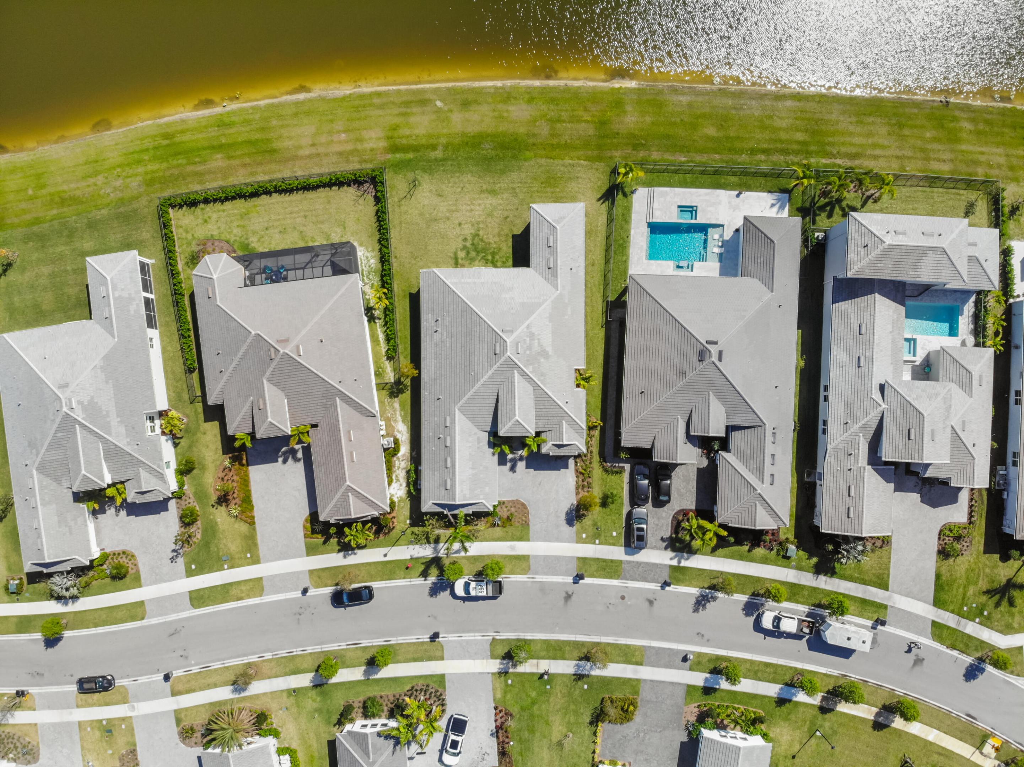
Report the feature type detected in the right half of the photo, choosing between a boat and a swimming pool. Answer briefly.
swimming pool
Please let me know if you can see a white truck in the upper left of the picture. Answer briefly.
No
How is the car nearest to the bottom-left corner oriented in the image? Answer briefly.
from side to side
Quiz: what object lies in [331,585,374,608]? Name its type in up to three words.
car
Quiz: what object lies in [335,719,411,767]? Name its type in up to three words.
house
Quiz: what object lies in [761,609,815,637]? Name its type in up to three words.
truck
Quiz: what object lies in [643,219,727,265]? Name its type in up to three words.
swimming pool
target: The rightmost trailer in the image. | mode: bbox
[813,621,876,654]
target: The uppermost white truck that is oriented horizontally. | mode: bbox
[454,577,504,598]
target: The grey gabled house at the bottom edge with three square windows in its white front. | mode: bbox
[693,728,772,767]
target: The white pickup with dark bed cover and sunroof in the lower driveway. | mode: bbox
[441,711,469,766]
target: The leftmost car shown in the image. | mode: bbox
[75,672,117,695]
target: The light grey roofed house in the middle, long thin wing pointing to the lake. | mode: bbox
[421,202,587,514]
